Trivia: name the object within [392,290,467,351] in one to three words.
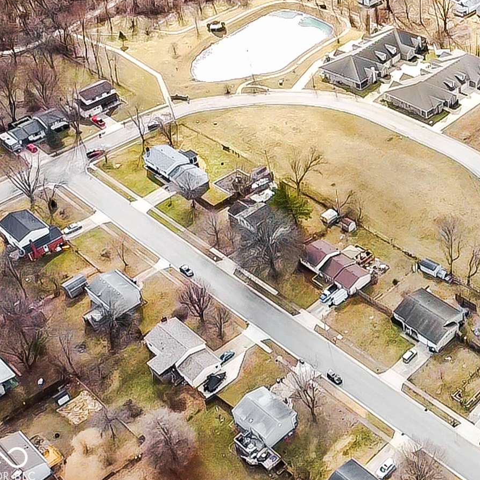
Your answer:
house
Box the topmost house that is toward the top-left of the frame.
[76,80,120,121]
